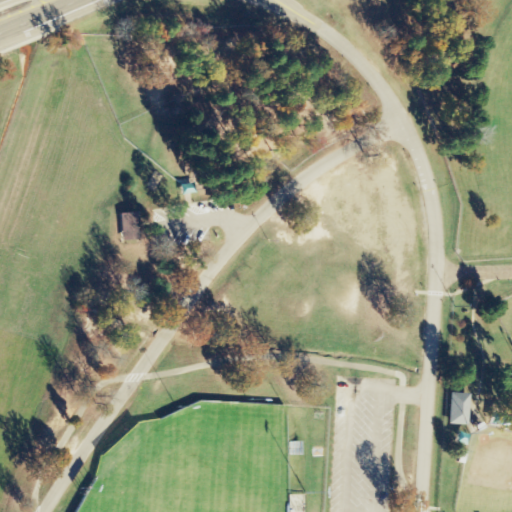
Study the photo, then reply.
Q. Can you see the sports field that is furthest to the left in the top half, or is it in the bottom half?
bottom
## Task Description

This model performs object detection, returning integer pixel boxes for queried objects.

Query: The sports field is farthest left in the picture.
[74,401,287,512]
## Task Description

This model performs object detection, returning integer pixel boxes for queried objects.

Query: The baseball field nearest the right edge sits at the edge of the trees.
[456,428,512,512]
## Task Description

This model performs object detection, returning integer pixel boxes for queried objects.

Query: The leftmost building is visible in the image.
[116,212,141,240]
